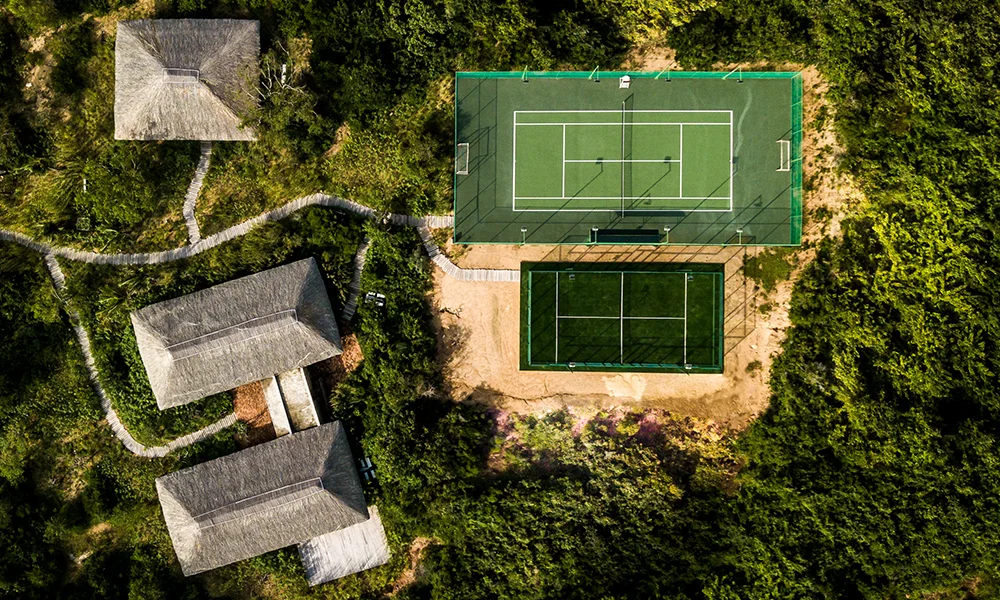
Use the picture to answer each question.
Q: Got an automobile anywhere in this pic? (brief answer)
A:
No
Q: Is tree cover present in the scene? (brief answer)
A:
Yes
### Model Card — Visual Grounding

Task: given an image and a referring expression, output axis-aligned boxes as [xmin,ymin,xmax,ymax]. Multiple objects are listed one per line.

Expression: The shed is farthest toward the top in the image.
[113,19,260,141]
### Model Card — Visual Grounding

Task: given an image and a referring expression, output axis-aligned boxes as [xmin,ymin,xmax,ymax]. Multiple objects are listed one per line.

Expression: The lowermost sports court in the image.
[520,262,723,373]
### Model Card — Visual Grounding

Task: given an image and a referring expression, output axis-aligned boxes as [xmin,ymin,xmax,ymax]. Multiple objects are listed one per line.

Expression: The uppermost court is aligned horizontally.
[456,78,792,243]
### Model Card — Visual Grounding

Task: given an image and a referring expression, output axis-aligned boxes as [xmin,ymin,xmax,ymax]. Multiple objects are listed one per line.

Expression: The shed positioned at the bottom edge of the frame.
[155,421,368,576]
